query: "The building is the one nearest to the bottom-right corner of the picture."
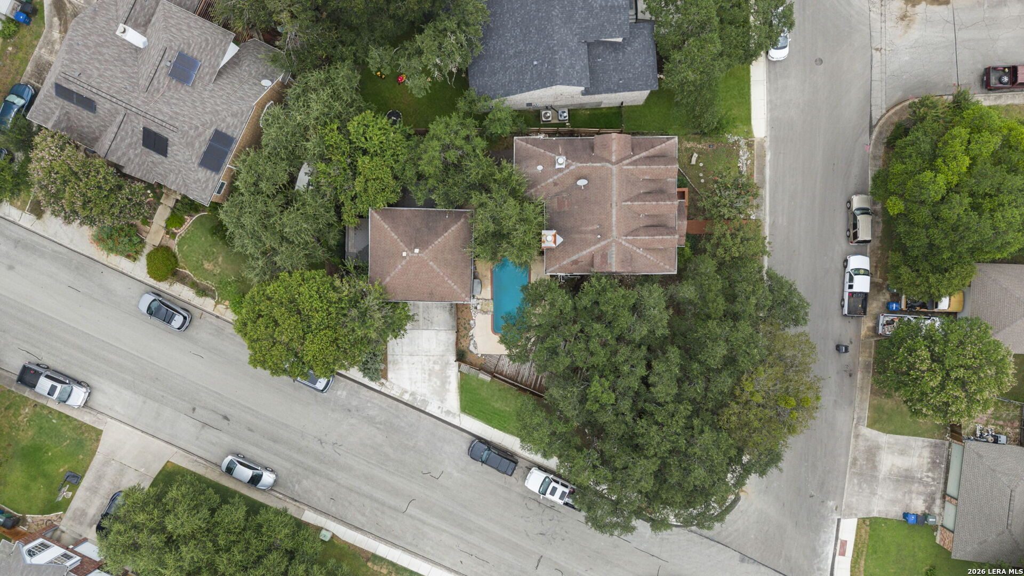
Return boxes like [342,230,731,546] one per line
[936,441,1024,572]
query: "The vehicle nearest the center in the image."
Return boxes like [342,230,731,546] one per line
[466,437,523,479]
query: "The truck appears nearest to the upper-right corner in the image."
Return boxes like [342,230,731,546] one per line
[980,64,1024,91]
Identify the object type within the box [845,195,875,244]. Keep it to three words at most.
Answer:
car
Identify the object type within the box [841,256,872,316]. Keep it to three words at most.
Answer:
truck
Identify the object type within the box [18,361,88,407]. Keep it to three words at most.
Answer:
truck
